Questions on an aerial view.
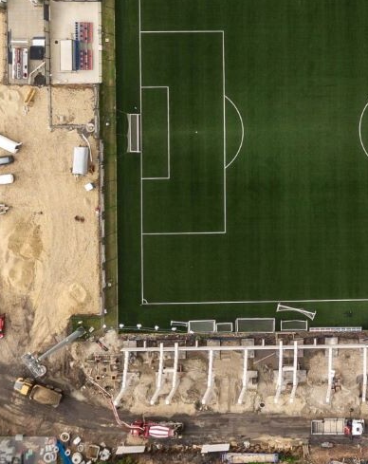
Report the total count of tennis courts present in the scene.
0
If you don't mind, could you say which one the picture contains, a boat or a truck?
truck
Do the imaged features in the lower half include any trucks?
Yes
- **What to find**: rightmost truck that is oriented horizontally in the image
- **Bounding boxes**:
[310,413,365,437]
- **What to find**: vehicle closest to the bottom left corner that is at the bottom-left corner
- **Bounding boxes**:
[11,376,67,408]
